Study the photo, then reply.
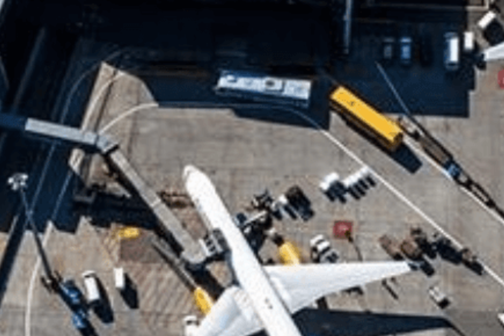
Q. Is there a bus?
Yes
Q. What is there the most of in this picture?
paved ground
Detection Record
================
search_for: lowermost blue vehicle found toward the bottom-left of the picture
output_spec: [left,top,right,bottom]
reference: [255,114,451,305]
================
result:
[71,312,95,336]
